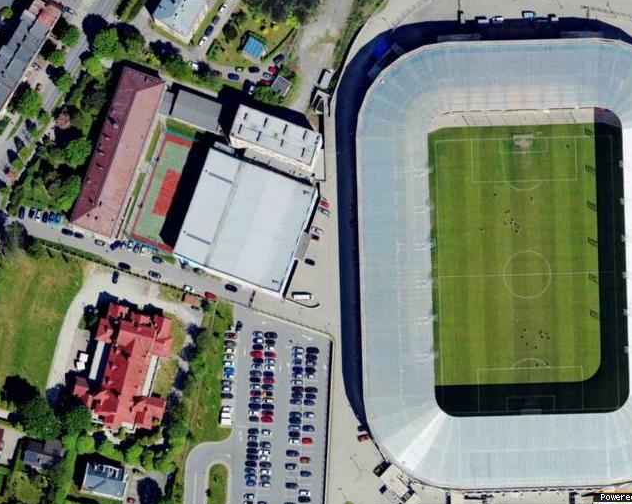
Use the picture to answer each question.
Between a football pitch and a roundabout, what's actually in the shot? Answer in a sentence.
This aerial view contains a football pitch.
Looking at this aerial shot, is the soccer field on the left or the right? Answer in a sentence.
The soccer field sits on the right side.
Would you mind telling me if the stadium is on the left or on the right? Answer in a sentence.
You can find the stadium on the right side of the picture.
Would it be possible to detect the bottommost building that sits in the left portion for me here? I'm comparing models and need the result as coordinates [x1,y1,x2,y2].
[81,462,127,501]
